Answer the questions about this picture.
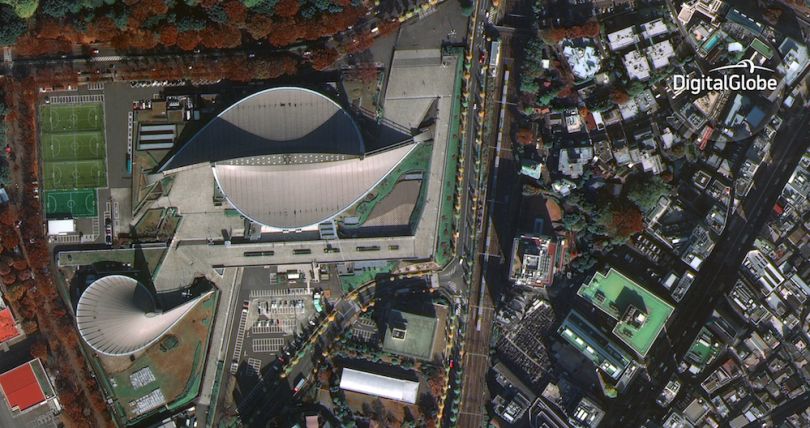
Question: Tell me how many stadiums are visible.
2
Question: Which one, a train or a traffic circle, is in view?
train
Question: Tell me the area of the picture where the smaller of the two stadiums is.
bottom left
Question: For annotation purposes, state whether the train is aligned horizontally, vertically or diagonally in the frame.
vertically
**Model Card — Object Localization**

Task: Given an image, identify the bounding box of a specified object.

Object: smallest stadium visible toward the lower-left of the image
[75,274,214,356]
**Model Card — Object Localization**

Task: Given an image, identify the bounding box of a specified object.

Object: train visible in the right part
[477,61,509,331]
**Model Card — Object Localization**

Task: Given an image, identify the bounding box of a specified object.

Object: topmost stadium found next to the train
[146,86,436,232]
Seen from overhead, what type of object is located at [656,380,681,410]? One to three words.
building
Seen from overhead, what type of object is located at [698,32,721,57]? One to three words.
swimming pool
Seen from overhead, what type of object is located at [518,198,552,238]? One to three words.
building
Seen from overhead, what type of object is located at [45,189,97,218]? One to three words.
soccer field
